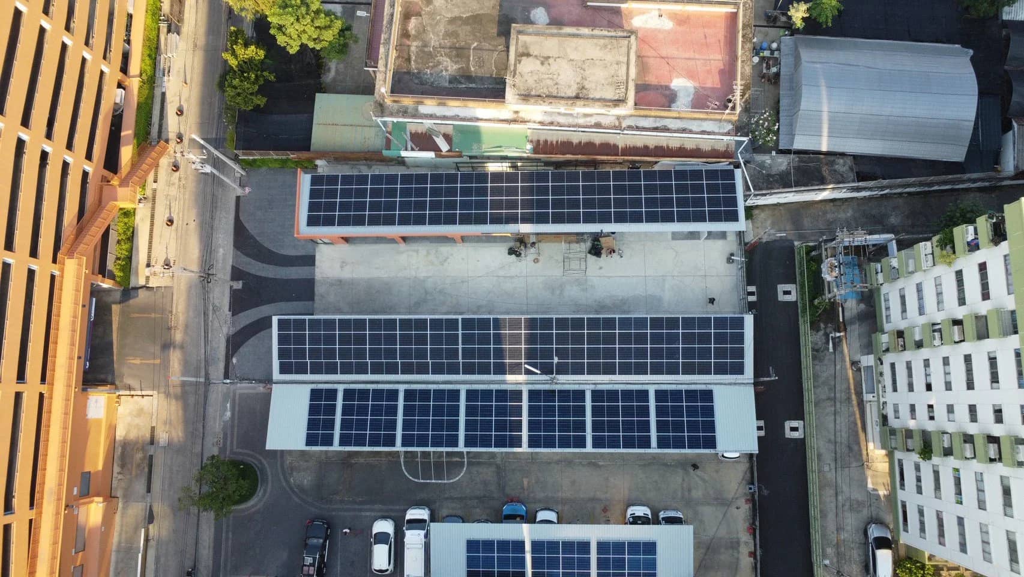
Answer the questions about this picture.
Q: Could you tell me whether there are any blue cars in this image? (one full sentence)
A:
Yes, this view includes a blue car.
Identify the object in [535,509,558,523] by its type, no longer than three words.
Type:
car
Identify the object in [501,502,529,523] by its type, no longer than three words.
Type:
car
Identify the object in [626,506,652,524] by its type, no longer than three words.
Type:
vehicle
